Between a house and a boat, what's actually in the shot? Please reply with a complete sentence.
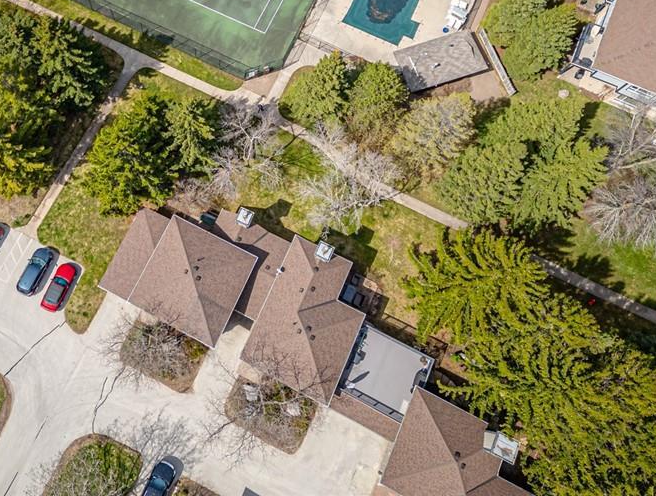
The image shows a house.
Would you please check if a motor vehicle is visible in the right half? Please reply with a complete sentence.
No, no motor vehicle appears in the right half.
